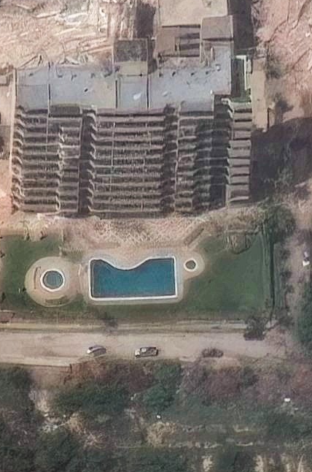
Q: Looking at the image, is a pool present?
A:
Yes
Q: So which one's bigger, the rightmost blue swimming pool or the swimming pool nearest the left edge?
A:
the rightmost blue swimming pool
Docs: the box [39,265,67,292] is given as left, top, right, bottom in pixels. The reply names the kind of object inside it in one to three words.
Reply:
swimming pool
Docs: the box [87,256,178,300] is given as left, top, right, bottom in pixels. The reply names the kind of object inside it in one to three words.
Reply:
swimming pool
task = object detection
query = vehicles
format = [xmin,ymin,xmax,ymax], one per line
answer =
[201,347,222,358]
[245,329,266,339]
[136,345,158,357]
[86,344,107,355]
